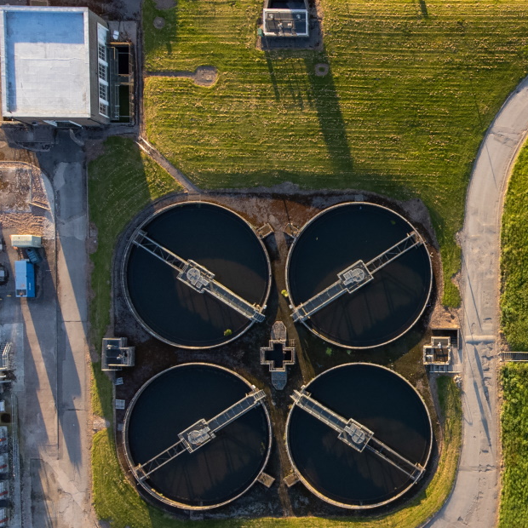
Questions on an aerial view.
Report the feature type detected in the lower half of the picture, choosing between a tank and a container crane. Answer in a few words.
tank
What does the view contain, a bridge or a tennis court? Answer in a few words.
bridge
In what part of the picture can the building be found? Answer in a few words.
top left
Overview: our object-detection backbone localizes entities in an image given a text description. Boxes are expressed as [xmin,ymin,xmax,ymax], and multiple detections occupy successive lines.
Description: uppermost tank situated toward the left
[123,201,274,350]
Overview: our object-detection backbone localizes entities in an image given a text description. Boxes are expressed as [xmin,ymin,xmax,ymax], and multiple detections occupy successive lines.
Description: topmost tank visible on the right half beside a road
[286,202,434,349]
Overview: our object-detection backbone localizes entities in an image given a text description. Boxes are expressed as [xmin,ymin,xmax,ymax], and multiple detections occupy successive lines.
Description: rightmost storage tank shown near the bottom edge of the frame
[285,362,435,510]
